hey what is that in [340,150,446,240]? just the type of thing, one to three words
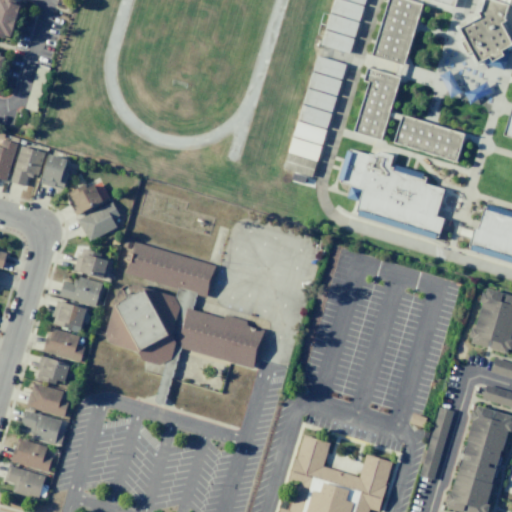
building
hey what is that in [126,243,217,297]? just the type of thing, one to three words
building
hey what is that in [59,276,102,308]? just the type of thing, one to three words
house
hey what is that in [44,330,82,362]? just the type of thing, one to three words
house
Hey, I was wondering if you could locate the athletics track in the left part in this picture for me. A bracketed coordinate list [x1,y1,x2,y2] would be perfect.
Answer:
[104,0,289,162]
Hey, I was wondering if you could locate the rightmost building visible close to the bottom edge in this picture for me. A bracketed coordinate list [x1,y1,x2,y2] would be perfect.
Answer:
[445,408,512,512]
